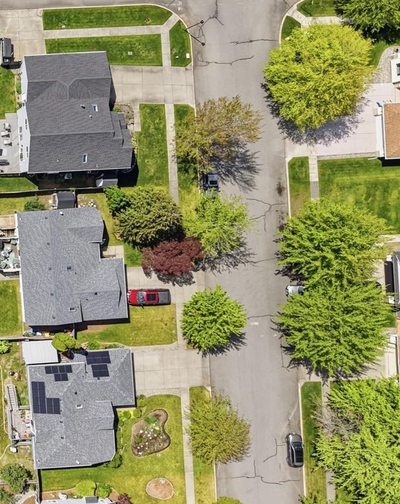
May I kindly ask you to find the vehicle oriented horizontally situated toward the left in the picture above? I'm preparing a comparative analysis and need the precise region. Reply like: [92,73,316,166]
[129,288,173,307]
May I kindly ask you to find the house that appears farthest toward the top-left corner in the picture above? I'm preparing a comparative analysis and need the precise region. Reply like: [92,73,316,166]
[18,50,134,173]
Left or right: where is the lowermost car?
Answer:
right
